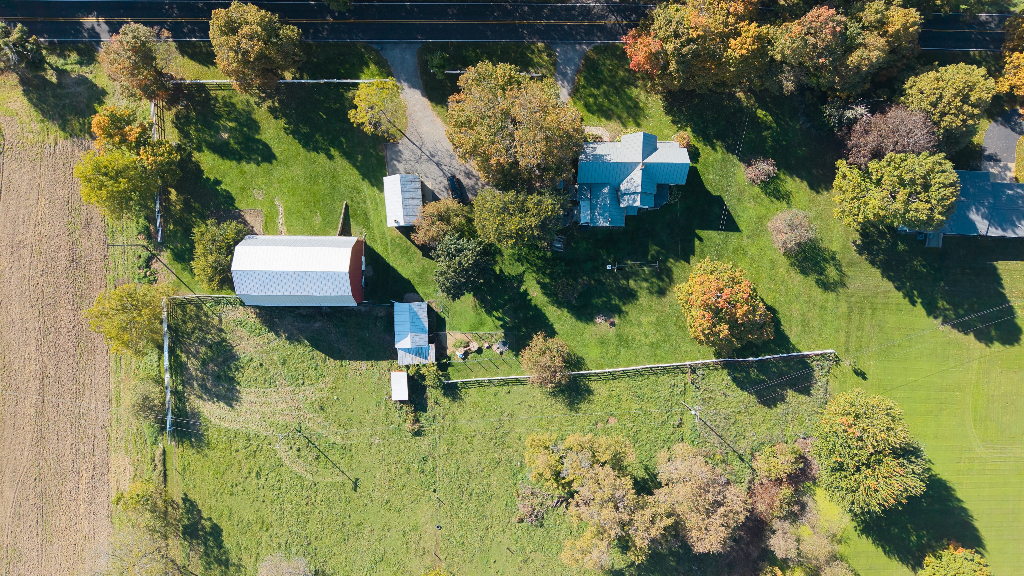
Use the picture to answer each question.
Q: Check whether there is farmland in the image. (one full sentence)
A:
Yes, there is farmland in the image.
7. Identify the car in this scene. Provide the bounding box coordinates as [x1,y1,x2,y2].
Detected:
[447,174,462,201]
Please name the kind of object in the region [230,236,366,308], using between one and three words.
barn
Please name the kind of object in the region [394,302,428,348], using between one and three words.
shed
